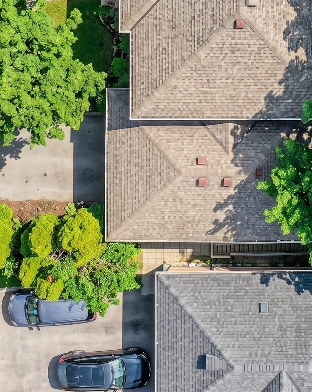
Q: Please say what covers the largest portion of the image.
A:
buildings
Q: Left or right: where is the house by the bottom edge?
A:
right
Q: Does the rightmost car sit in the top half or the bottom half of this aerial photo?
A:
bottom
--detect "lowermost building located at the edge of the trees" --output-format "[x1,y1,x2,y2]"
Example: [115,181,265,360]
[154,263,312,392]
